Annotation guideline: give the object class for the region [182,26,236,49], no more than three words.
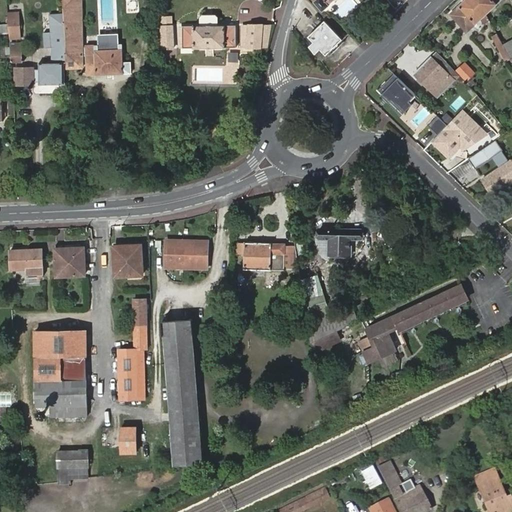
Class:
house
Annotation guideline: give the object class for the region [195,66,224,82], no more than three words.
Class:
swimming pool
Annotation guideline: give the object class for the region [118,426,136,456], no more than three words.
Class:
building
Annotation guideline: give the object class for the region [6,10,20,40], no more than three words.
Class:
shed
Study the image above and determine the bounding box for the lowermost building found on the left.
[55,450,88,485]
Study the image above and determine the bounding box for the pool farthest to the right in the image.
[448,95,466,113]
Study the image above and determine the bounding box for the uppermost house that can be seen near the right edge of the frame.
[448,0,496,33]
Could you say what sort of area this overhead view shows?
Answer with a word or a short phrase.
residential area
